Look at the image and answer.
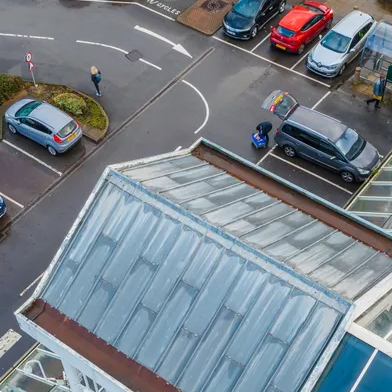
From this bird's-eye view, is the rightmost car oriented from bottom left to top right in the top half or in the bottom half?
top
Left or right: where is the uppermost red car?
right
